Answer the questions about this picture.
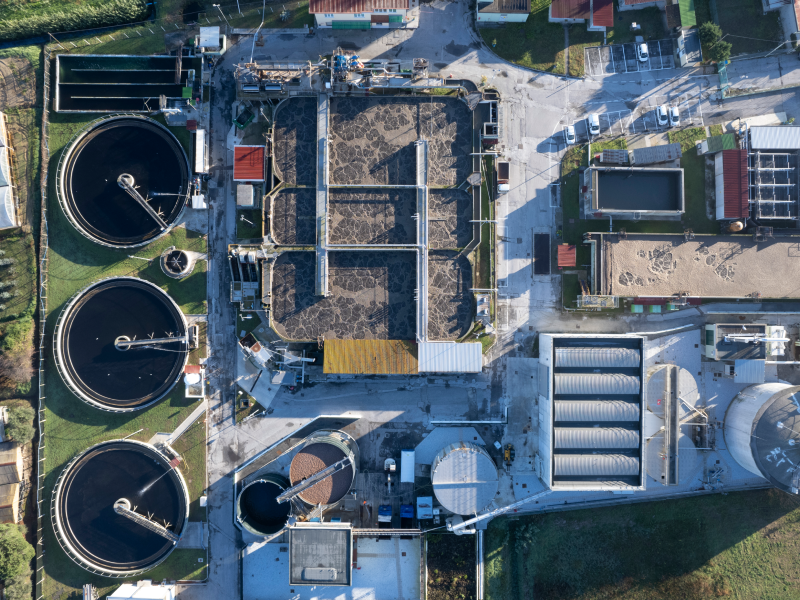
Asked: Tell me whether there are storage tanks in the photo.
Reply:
Yes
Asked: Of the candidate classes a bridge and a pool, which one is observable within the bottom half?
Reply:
bridge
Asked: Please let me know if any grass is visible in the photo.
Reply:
Yes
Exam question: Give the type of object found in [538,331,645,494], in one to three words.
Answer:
building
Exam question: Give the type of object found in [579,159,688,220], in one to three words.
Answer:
storage tank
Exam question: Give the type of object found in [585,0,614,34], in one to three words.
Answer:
house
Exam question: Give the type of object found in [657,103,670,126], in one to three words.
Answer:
vehicle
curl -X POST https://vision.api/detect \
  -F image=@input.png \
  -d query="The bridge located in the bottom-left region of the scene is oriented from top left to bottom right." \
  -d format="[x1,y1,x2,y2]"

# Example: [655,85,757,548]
[114,504,180,548]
